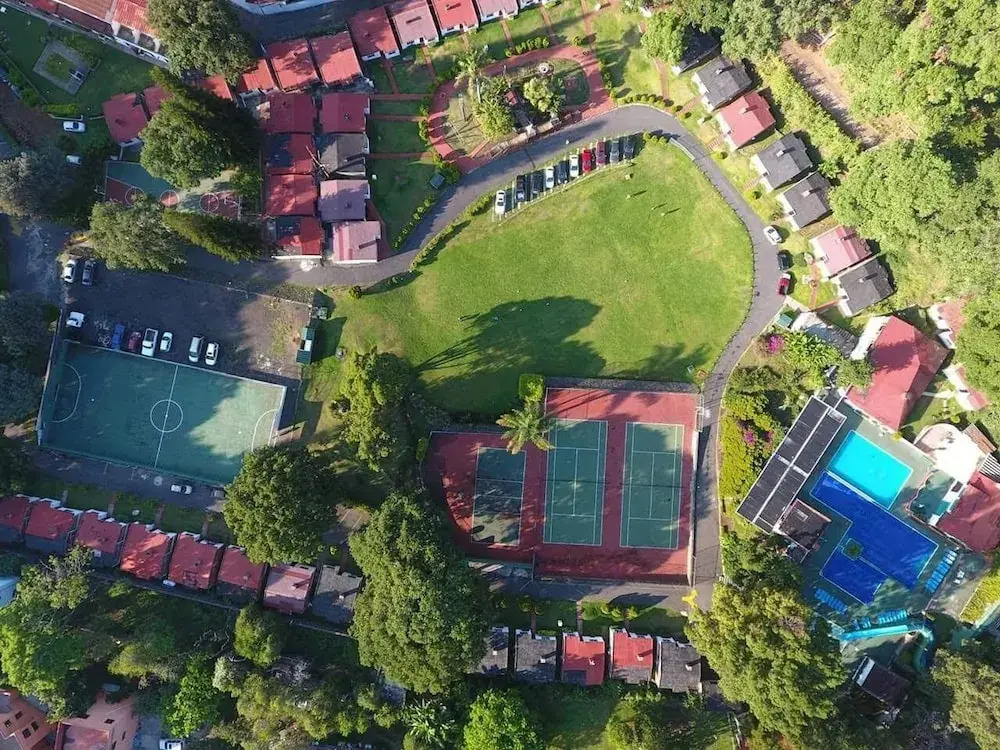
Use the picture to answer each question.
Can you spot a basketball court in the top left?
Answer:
Yes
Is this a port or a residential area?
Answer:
residential area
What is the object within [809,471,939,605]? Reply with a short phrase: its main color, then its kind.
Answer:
blue swimming pool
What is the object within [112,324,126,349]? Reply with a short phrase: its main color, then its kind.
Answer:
blue vehicle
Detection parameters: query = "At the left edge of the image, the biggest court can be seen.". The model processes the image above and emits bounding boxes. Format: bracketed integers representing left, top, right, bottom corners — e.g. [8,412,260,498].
[42,344,285,485]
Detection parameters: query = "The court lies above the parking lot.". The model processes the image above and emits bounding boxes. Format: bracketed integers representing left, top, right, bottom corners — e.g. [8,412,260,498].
[103,160,242,216]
